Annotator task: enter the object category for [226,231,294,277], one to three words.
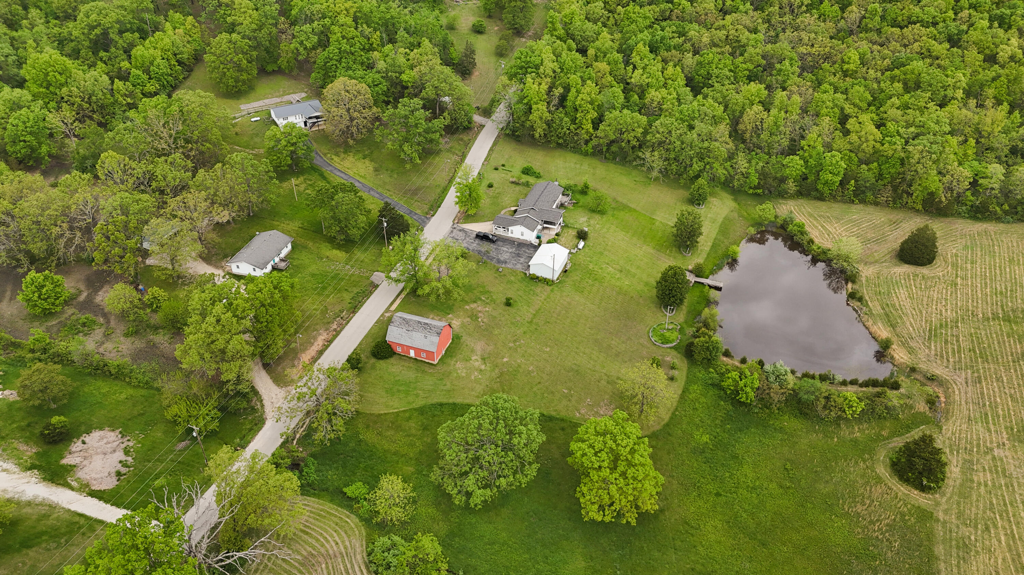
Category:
house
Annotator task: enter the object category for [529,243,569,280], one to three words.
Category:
building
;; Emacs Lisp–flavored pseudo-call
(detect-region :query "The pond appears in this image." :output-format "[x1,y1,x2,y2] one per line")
[715,229,895,381]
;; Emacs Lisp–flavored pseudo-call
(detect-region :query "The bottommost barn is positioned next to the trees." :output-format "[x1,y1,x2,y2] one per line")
[386,311,453,364]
